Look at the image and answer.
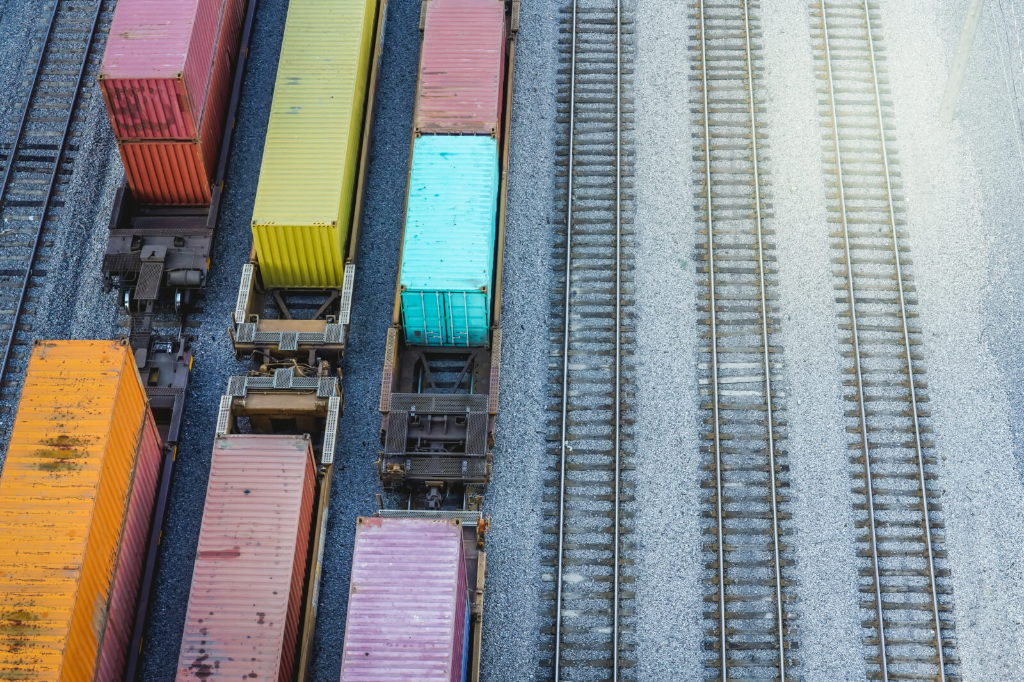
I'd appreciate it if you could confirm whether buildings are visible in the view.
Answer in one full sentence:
No, no building is visible in the view.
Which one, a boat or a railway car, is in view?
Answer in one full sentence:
Looking from above, you can make out a railway car.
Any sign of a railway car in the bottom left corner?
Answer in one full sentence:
Yes, there is a railway car in the bottom left corner.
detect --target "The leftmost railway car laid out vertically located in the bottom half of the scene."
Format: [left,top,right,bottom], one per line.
[122,314,195,682]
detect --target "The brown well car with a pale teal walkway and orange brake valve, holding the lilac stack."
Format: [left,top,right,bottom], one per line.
[371,497,494,682]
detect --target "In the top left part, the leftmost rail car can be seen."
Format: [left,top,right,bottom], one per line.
[98,0,263,330]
